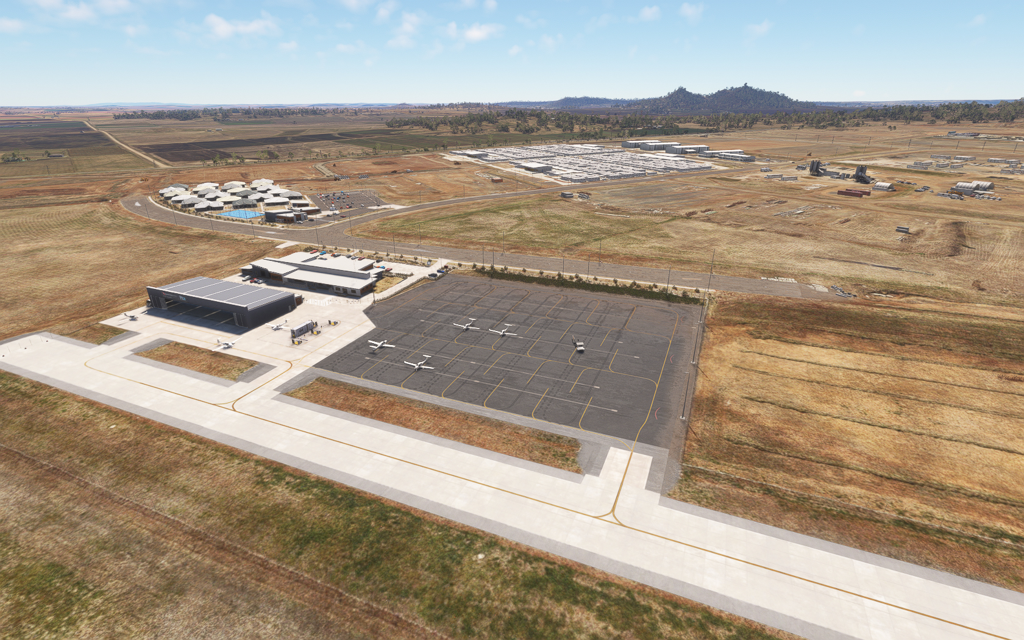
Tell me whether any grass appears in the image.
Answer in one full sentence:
Yes, there's grass in this view.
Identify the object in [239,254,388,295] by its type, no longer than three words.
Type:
building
